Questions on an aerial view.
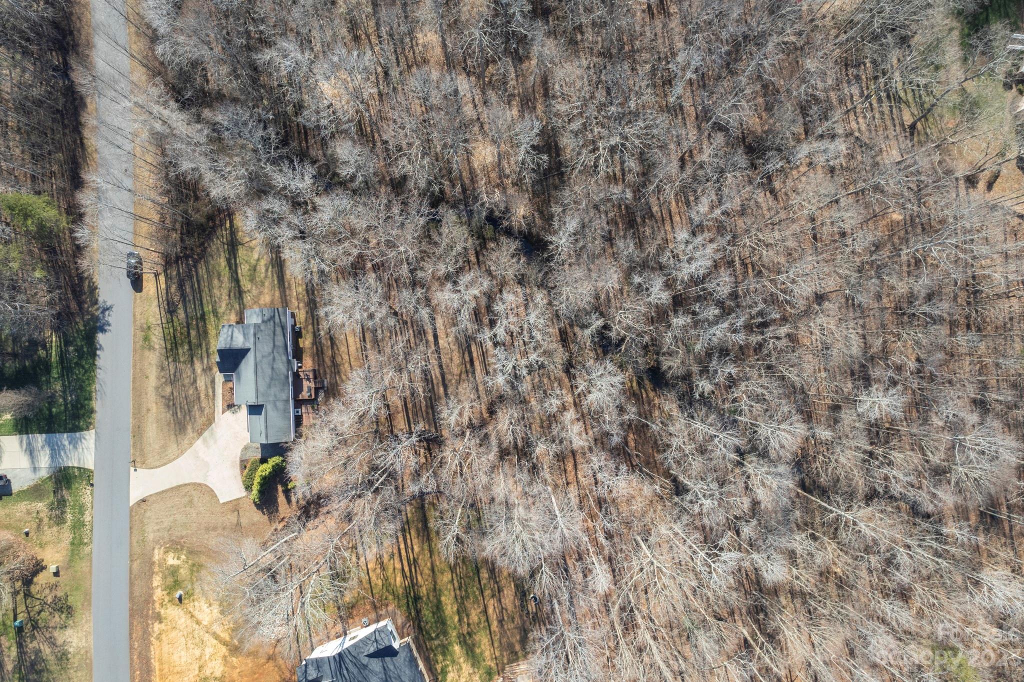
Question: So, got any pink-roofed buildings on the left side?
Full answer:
No, I see no pink-roofed building on the left side.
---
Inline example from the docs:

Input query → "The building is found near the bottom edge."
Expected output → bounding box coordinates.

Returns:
[295,618,424,682]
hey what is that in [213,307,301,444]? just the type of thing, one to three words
house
